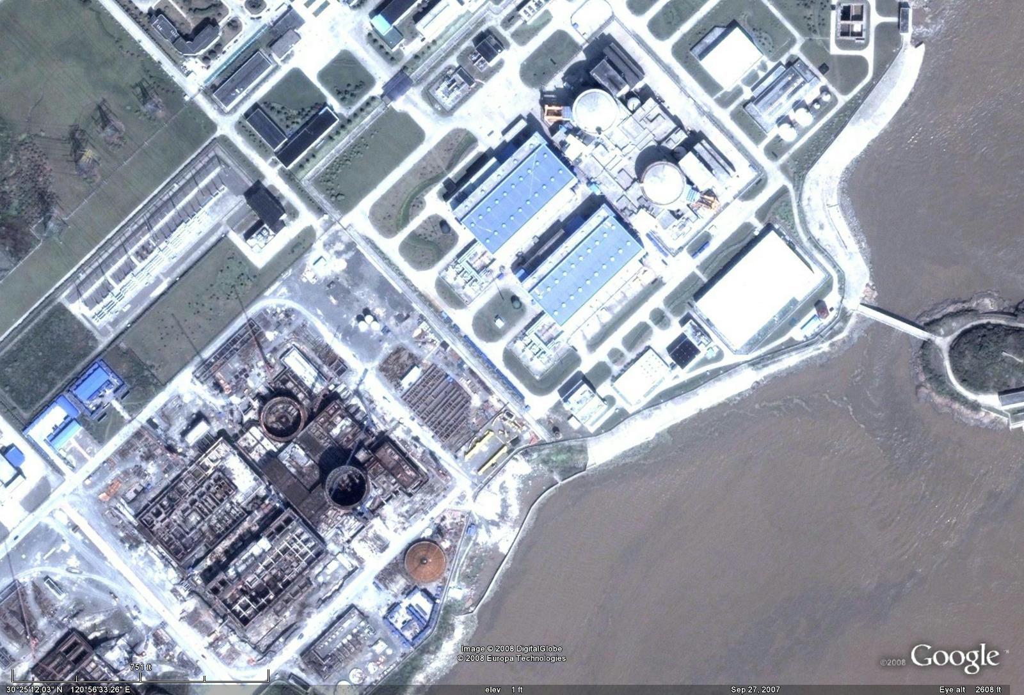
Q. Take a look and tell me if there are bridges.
Yes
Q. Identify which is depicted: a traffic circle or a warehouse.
warehouse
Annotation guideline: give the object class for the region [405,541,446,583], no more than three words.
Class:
storage tank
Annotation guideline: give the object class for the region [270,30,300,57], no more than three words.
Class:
building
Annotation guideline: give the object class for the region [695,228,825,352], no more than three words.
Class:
warehouse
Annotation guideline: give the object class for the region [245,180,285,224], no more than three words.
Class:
house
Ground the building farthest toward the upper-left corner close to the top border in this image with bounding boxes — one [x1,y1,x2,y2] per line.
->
[152,15,180,45]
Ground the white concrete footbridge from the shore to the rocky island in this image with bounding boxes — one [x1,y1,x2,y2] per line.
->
[856,302,935,342]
